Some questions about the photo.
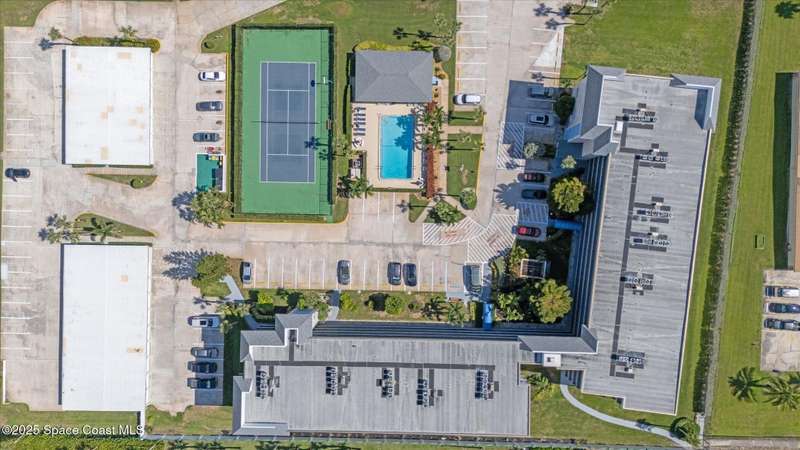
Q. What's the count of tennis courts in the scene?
1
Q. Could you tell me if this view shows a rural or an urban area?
urban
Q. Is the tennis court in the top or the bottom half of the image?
top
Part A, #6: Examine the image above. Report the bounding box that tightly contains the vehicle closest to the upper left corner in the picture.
[5,167,31,182]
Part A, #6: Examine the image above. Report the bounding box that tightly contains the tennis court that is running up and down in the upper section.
[236,22,333,222]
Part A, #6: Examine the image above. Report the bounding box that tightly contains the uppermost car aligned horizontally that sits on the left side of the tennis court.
[198,70,226,82]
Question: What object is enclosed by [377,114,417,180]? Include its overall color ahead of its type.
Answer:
blue swimming pool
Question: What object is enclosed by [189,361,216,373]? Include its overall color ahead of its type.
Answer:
black vehicle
